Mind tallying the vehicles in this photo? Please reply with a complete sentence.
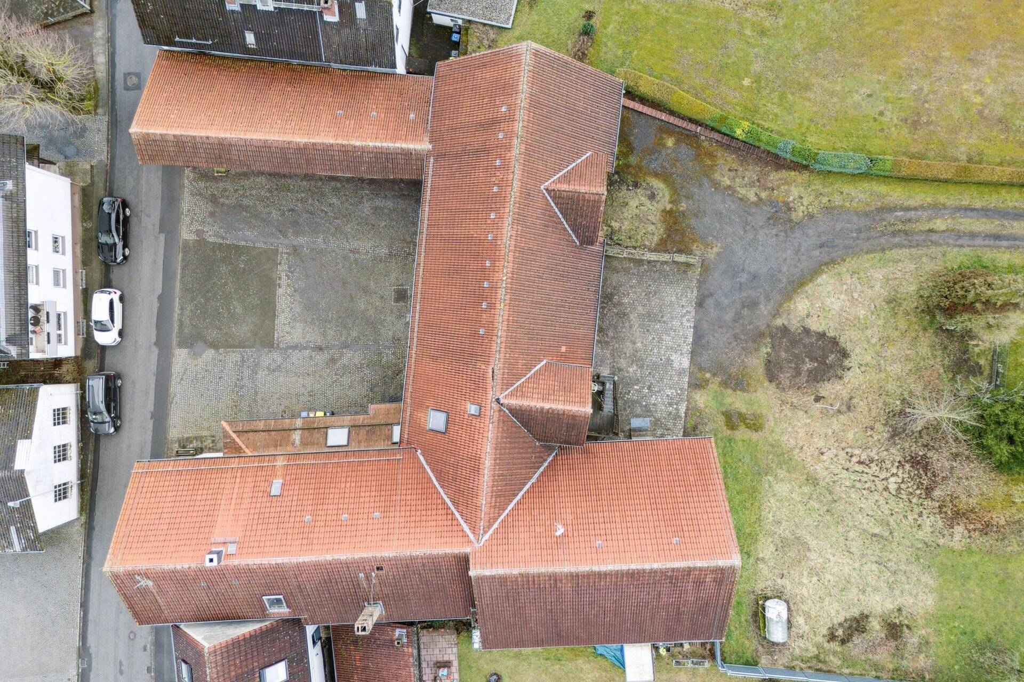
I count 3 vehicles.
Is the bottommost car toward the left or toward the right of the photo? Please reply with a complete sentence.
The bottommost car sits on the left side.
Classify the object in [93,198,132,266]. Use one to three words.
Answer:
car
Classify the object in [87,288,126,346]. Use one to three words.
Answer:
car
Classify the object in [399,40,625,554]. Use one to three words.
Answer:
barn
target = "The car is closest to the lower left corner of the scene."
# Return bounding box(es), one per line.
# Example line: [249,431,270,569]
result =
[84,371,125,435]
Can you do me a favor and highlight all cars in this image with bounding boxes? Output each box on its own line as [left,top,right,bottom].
[93,198,132,266]
[84,371,125,435]
[87,288,126,346]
